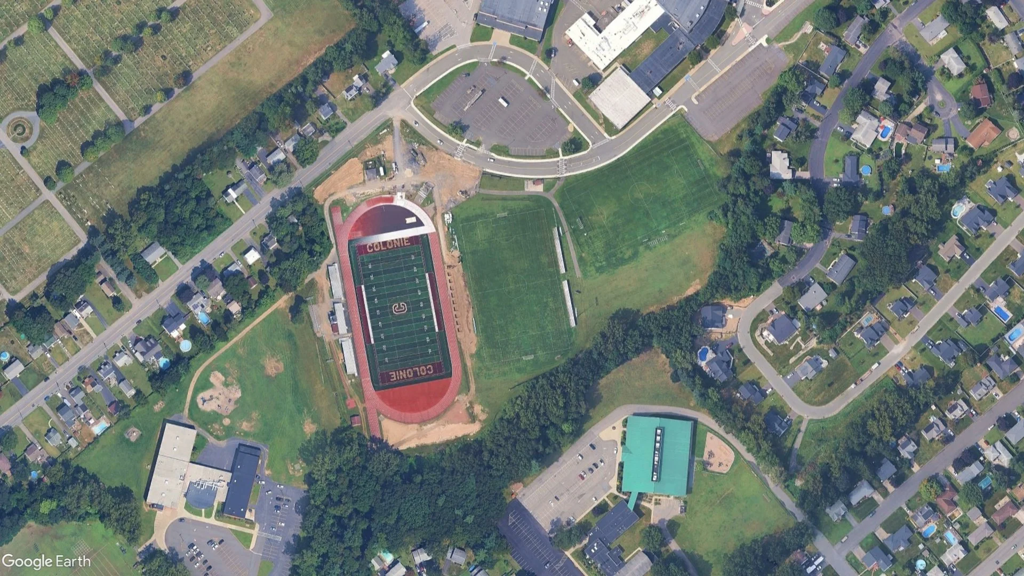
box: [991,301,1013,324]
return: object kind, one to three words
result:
swimming pool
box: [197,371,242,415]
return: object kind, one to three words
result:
playground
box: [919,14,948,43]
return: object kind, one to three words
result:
house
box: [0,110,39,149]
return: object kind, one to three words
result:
roundabout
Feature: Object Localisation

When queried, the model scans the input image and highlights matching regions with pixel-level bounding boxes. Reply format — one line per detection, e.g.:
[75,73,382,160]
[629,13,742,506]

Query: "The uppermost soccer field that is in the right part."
[564,127,716,259]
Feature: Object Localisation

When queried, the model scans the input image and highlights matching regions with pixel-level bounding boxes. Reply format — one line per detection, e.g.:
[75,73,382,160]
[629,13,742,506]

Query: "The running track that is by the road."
[331,193,461,446]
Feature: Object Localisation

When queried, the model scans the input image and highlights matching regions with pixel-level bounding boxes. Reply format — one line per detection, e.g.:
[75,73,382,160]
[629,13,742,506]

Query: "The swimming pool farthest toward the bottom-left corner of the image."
[88,416,112,439]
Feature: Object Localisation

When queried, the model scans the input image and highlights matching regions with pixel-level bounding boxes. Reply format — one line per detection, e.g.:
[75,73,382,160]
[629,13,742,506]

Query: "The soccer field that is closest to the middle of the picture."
[460,208,570,365]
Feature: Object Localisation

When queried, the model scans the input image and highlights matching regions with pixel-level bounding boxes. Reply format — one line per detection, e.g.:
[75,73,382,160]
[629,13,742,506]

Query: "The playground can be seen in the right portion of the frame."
[703,431,734,473]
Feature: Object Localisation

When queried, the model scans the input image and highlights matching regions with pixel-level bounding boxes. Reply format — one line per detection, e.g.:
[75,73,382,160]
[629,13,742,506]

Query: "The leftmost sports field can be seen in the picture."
[349,234,452,391]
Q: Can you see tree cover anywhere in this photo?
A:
Yes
